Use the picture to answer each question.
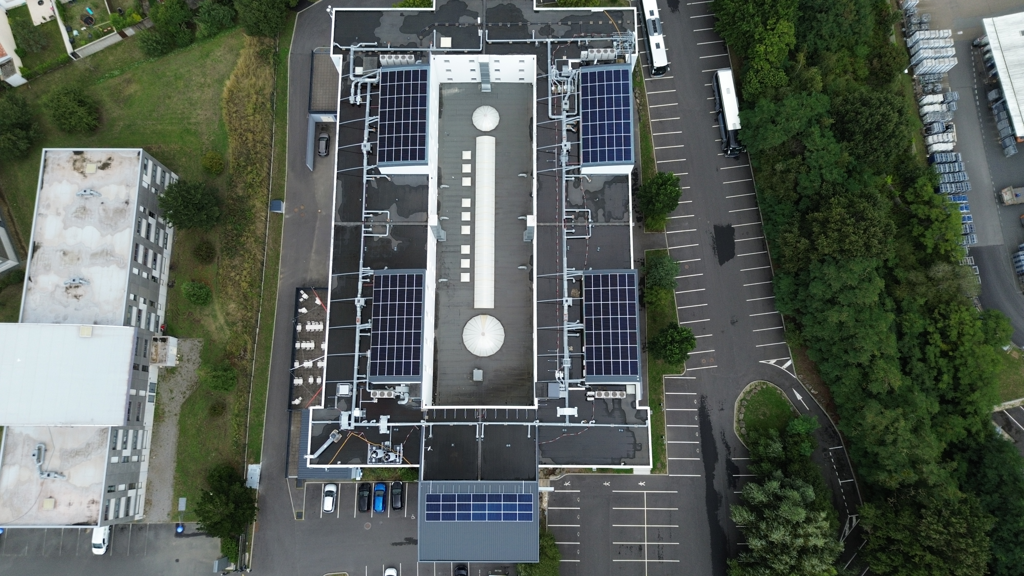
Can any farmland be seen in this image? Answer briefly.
No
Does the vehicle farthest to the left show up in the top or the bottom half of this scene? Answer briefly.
bottom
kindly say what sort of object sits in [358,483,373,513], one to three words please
car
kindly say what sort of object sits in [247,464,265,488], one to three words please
building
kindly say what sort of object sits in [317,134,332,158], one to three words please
car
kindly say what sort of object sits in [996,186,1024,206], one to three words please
vehicle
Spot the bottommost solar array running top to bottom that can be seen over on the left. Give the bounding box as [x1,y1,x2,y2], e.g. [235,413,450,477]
[370,274,423,376]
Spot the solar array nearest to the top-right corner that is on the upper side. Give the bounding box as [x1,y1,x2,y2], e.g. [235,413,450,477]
[581,69,631,164]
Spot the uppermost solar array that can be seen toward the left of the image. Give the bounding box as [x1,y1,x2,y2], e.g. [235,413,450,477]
[378,69,428,163]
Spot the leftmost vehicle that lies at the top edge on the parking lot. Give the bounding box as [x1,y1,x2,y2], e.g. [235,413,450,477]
[637,0,669,83]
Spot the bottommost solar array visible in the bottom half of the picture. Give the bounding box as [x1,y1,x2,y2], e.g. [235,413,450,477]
[426,480,533,521]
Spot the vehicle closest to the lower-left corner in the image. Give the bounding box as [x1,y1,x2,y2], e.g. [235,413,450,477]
[94,524,114,557]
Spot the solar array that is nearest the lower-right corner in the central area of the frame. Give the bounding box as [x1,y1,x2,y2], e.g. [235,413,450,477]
[584,273,638,375]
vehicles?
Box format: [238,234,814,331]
[373,484,388,513]
[996,186,1024,206]
[1011,137,1024,146]
[454,565,469,576]
[94,524,114,557]
[712,70,745,162]
[358,483,373,513]
[317,134,332,158]
[323,484,338,513]
[637,0,669,83]
[385,567,398,576]
[390,481,405,510]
